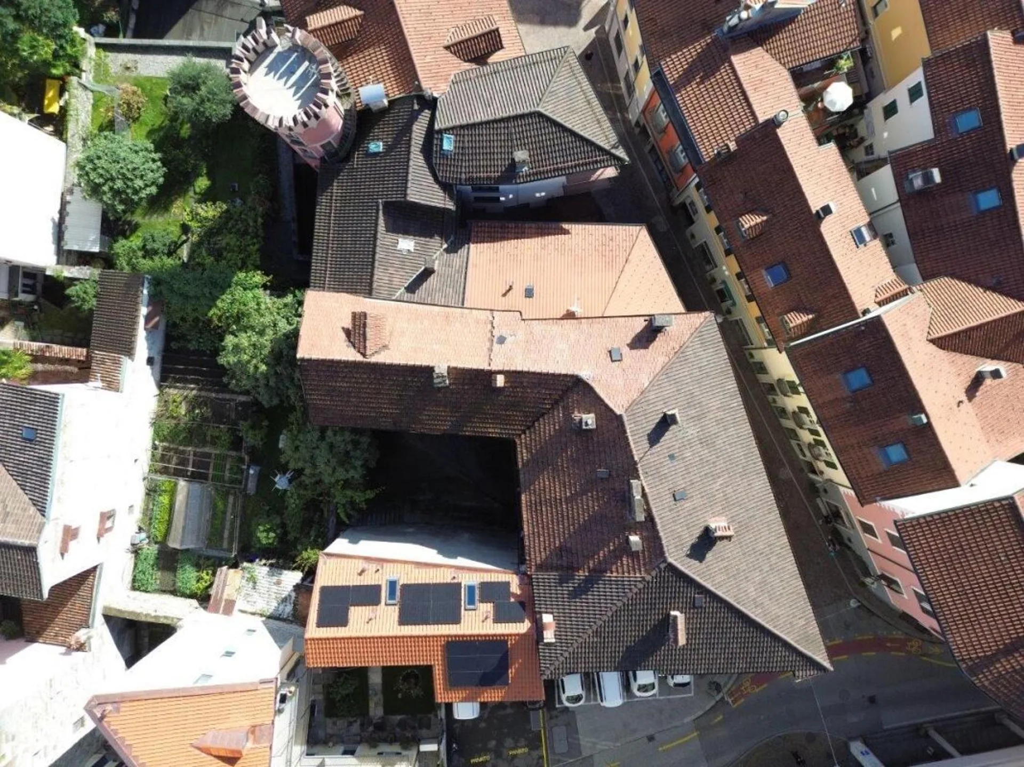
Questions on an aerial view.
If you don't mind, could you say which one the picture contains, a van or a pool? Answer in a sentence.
This aerial view contains a van.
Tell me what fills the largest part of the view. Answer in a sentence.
The largest share of the image is taken up by buildings.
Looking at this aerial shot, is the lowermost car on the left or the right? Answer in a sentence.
It is on the left.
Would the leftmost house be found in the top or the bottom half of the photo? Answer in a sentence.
It is in the top half that the leftmost house appears.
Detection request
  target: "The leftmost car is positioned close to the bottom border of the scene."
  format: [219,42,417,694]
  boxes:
[76,740,120,767]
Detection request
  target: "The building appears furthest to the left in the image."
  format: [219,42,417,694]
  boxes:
[0,109,64,265]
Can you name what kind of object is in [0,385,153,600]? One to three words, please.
house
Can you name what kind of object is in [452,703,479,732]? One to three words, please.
vehicle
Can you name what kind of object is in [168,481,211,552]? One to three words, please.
greenhouse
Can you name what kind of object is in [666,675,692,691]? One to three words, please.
car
